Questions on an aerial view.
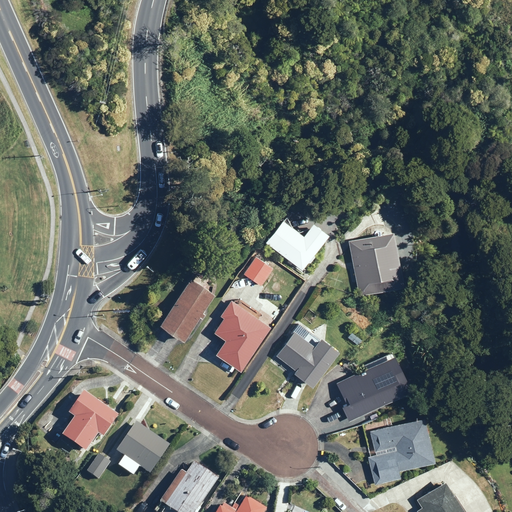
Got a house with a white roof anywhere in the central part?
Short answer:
Yes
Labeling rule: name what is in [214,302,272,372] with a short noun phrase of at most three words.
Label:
house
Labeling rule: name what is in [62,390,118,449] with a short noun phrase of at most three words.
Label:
house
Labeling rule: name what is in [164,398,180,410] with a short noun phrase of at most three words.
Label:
vehicle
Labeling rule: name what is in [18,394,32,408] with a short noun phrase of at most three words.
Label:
vehicle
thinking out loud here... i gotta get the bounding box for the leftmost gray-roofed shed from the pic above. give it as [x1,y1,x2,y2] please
[87,453,111,478]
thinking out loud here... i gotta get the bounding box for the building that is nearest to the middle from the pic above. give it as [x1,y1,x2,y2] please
[245,256,272,286]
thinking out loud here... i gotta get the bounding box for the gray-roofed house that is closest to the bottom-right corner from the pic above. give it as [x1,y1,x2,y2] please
[417,484,466,512]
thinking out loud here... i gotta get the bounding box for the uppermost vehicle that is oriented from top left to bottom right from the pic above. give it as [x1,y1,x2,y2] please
[76,249,92,264]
